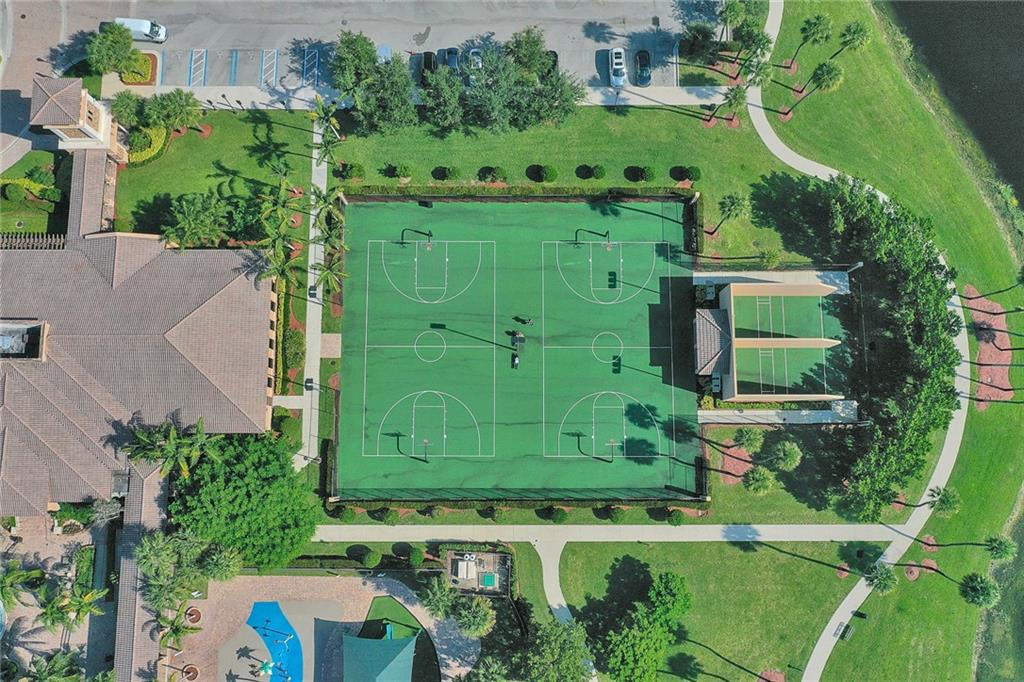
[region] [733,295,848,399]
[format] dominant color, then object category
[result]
green sports court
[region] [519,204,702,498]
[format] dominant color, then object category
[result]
green basketball court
